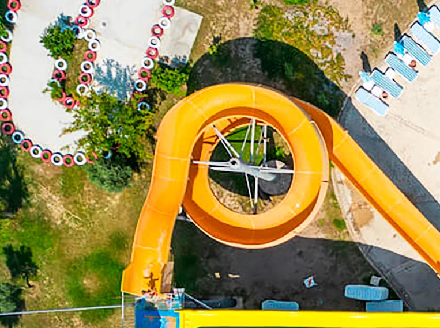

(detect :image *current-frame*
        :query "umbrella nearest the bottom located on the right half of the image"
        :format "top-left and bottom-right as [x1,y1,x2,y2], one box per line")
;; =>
[358,69,375,90]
